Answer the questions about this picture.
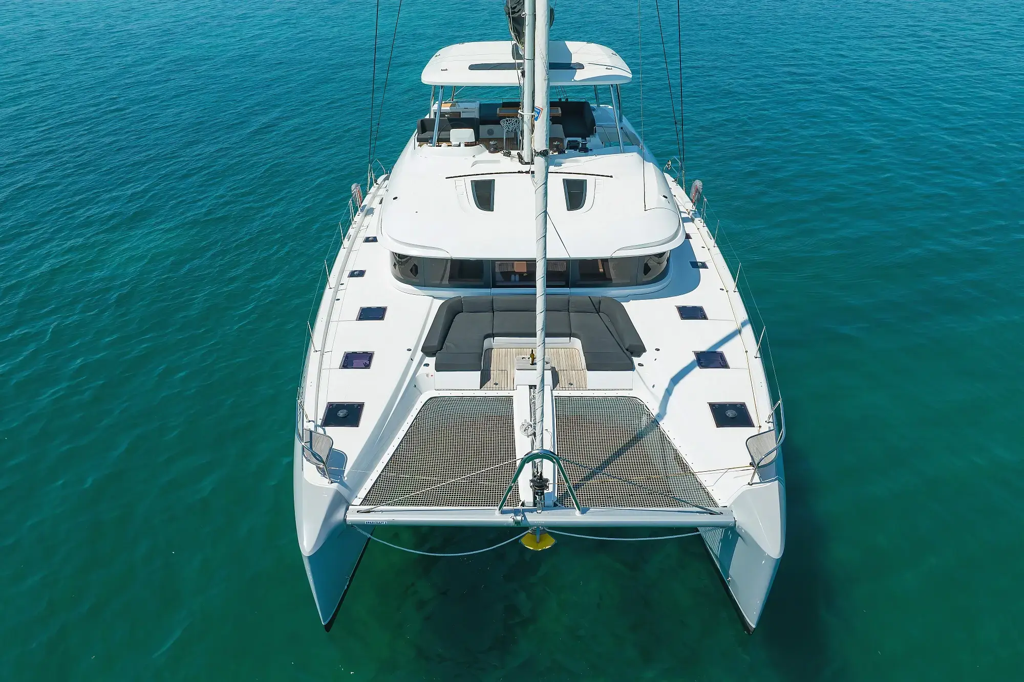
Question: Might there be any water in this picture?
Yes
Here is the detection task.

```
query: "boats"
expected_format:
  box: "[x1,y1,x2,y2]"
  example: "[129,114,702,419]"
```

[292,0,781,632]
